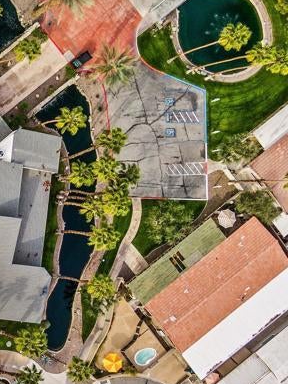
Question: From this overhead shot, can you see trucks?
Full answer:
No, I find no truck anywhere in the image.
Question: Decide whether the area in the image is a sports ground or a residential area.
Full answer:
It's a residential area.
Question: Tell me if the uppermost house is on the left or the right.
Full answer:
The uppermost house sits on the right side.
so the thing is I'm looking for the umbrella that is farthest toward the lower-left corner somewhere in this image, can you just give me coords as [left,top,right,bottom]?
[100,352,119,371]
